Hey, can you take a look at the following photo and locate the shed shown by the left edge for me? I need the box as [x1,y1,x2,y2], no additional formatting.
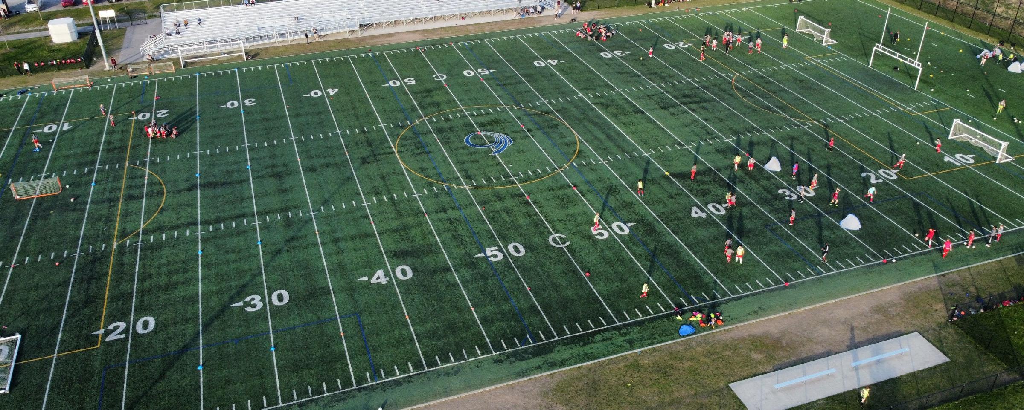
[44,17,82,45]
